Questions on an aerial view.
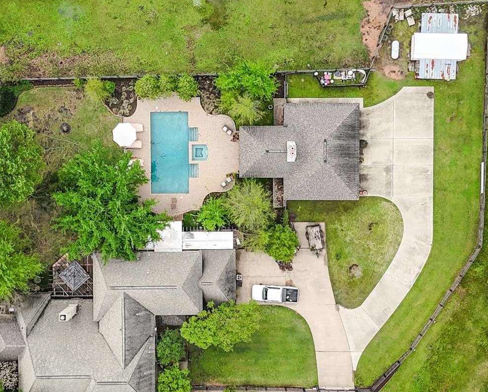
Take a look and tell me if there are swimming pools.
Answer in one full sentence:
Yes, looking at the shot, I can spot a swimming pool.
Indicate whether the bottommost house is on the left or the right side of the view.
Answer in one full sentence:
It is on the left.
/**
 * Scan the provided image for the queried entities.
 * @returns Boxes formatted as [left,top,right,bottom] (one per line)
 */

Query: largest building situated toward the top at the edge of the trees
[238,102,360,201]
